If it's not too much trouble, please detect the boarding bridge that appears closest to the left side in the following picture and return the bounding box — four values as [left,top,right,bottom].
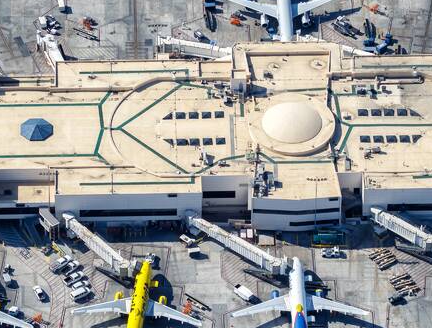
[31,31,68,73]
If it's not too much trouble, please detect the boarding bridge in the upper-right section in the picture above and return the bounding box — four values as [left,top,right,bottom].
[290,32,372,56]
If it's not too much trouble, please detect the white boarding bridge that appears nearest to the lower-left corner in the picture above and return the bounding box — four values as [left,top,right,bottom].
[58,209,141,283]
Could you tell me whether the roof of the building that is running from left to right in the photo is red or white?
white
